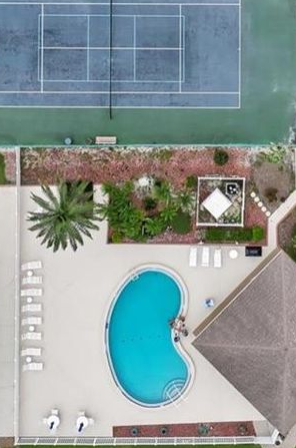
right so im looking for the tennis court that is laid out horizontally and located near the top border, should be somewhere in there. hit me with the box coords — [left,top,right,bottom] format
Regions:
[0,0,241,118]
